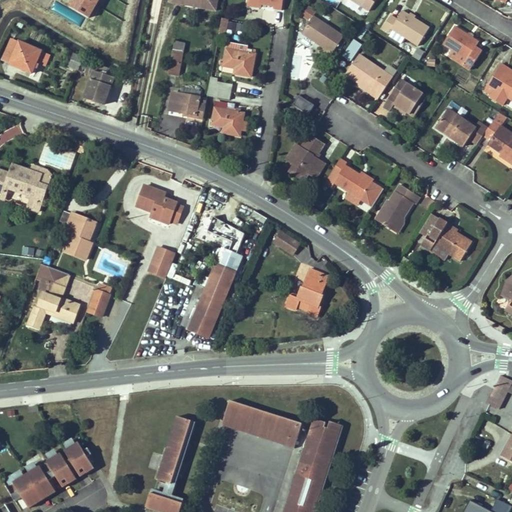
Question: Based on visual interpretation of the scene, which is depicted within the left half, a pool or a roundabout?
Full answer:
What appears within the left half is a pool.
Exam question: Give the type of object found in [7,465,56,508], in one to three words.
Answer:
house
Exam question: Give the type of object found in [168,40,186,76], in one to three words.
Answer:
shed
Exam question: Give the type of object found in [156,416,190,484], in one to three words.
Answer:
building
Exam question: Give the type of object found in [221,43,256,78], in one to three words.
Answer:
house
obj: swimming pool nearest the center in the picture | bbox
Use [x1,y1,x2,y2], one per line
[92,248,131,276]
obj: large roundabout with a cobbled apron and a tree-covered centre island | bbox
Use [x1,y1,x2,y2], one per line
[336,270,496,442]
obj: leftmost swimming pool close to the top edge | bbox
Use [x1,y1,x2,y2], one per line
[50,0,88,28]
